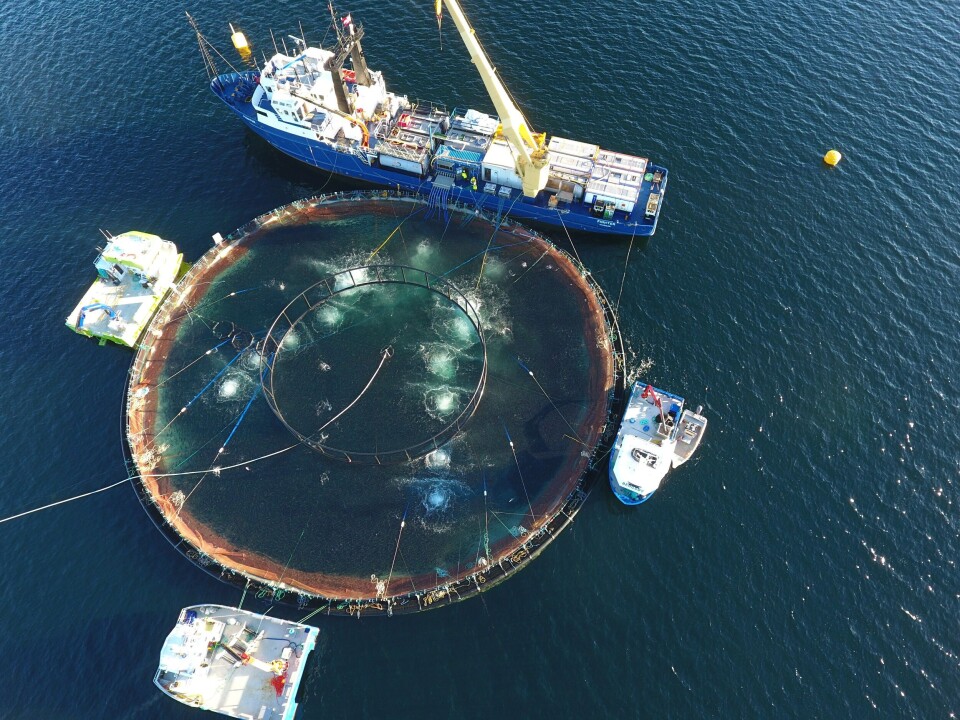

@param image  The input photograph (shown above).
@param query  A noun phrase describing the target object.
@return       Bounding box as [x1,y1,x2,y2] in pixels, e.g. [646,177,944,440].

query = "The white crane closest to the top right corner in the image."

[435,0,558,196]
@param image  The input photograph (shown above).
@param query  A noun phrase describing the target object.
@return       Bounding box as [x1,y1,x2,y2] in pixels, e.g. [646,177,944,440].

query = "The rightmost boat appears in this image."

[673,406,708,471]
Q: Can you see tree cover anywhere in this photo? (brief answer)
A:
No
